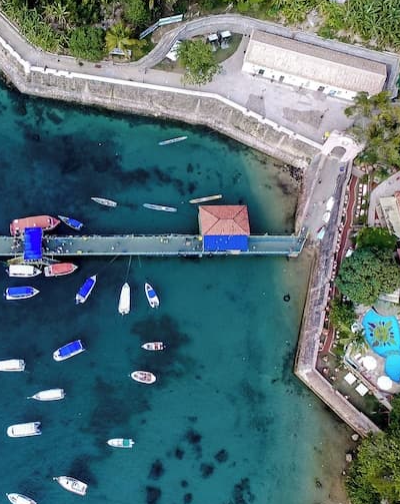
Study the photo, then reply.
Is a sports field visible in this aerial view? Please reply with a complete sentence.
No, I find no sports field anywhere in the image.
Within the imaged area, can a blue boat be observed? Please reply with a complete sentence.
Yes, I can see a blue boat in this picture.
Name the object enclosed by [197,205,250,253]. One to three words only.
building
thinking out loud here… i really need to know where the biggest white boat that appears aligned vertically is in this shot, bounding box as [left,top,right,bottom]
[118,282,131,316]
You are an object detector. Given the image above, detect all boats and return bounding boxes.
[53,339,86,359]
[142,205,177,212]
[28,388,67,400]
[4,492,38,504]
[145,282,159,311]
[7,422,43,437]
[73,274,98,306]
[118,282,131,316]
[59,216,85,232]
[92,199,117,208]
[188,195,222,203]
[4,286,39,300]
[131,370,157,384]
[159,138,186,146]
[53,476,91,495]
[5,263,42,276]
[10,214,60,235]
[107,437,136,447]
[0,358,27,372]
[43,262,78,276]
[141,341,167,351]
